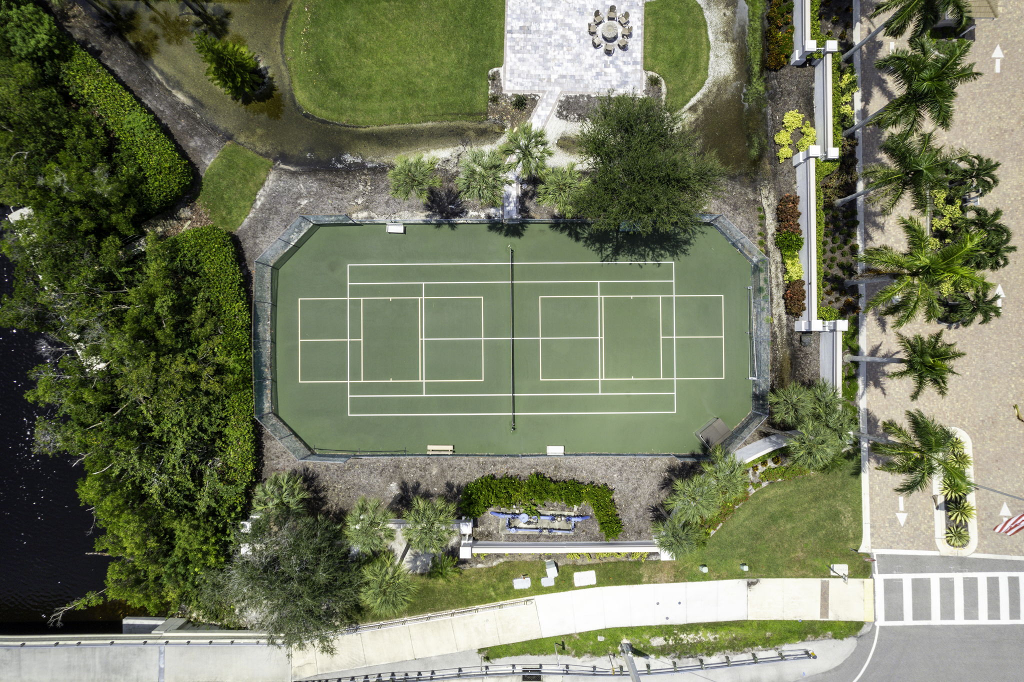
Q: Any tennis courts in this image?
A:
Yes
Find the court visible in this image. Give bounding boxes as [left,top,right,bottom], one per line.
[272,224,752,453]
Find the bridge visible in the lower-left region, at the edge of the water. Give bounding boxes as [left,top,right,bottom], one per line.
[0,612,291,682]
